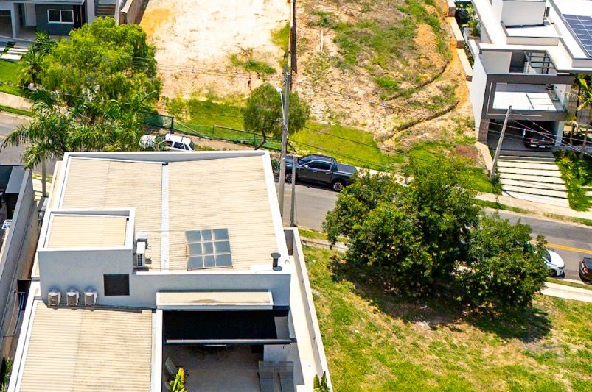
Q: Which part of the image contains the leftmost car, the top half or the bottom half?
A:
top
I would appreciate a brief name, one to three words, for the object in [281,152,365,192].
truck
